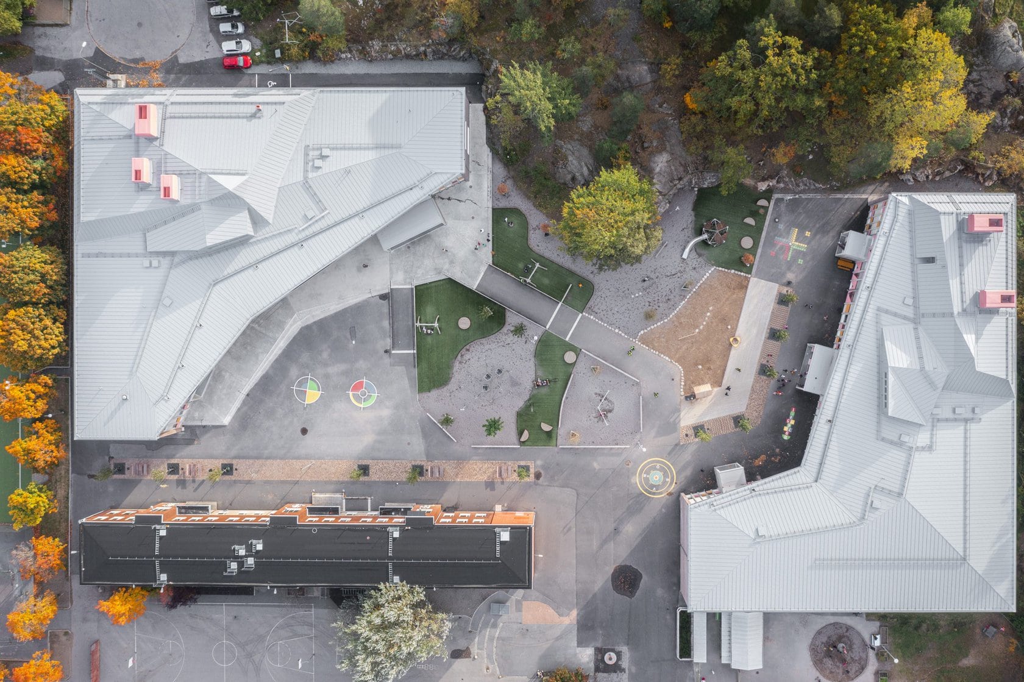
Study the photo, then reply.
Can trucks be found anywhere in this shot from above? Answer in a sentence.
No, the photo shows no truck.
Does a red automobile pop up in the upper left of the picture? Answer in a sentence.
Yes, a red automobile appears in the upper left of the picture.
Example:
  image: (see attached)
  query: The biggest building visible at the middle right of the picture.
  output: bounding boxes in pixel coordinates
[679,193,1016,618]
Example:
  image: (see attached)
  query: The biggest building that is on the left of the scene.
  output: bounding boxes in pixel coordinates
[74,88,469,439]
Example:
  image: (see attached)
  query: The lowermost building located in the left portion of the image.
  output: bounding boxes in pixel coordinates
[79,492,535,589]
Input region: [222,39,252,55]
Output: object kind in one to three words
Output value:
car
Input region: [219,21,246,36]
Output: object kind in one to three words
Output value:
car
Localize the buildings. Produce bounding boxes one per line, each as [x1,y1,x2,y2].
[74,88,469,439]
[679,193,1016,618]
[79,492,535,589]
[692,384,714,402]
